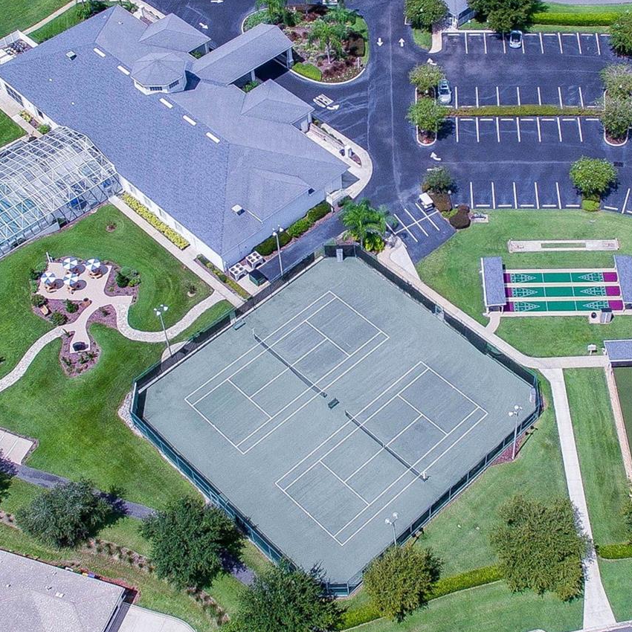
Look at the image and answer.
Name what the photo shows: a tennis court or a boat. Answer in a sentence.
Looking from above, you can make out a tennis court.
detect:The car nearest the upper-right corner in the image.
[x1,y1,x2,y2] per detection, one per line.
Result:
[510,28,524,48]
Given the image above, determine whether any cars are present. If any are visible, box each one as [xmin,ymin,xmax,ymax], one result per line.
[439,80,453,103]
[510,28,524,48]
